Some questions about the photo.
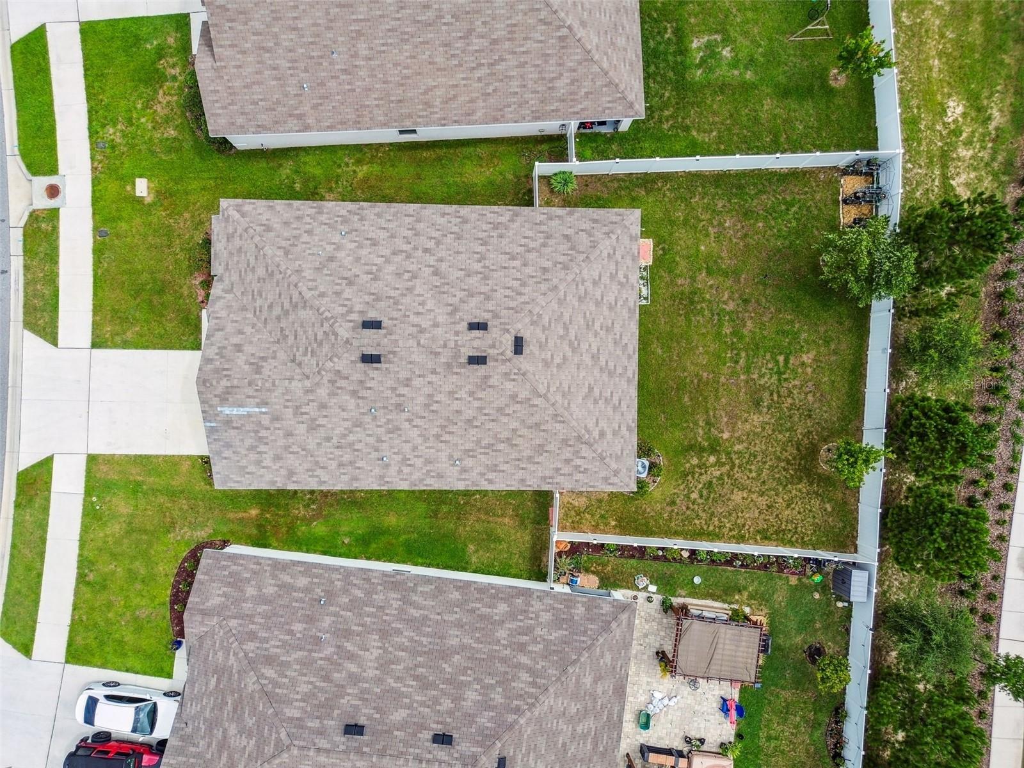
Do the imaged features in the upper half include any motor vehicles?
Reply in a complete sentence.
No, in the upper half there is no motor vehicle.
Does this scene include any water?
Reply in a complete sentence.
No, there is no water in the image.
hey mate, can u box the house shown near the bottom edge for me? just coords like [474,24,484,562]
[159,545,637,768]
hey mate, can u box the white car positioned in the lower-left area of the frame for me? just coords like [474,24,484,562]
[78,680,181,741]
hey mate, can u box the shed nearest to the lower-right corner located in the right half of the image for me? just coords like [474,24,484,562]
[832,562,869,603]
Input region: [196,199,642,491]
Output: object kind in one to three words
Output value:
house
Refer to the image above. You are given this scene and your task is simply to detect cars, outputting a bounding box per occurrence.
[65,730,167,768]
[78,680,181,741]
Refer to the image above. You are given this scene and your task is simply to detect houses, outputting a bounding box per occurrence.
[195,0,644,150]
[196,199,642,491]
[159,545,637,768]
